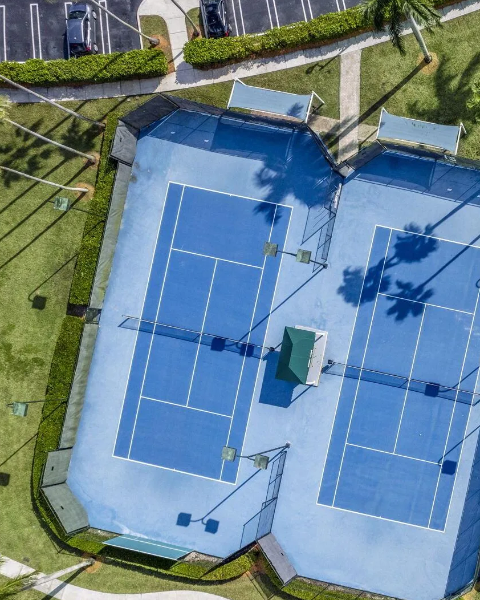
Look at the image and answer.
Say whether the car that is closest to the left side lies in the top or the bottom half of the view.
top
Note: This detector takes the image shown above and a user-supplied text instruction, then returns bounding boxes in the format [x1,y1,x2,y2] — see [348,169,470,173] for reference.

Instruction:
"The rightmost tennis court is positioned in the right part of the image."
[271,151,480,600]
